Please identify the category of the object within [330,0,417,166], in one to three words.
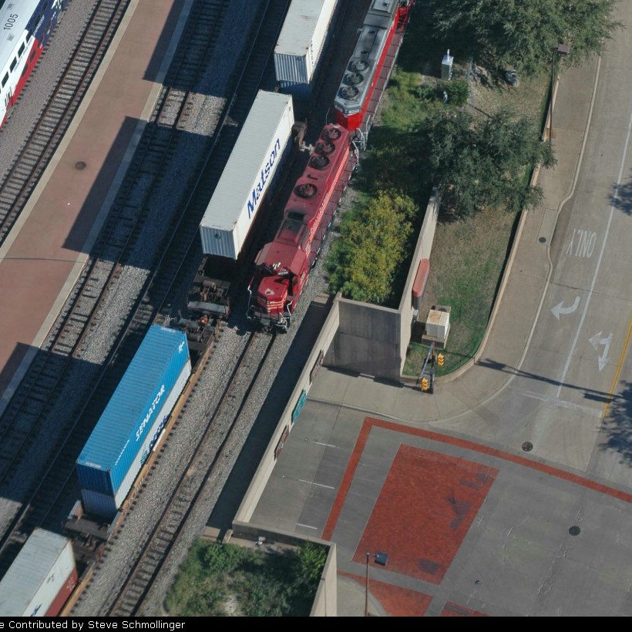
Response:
rail car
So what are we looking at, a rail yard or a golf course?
rail yard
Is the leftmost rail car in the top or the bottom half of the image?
bottom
